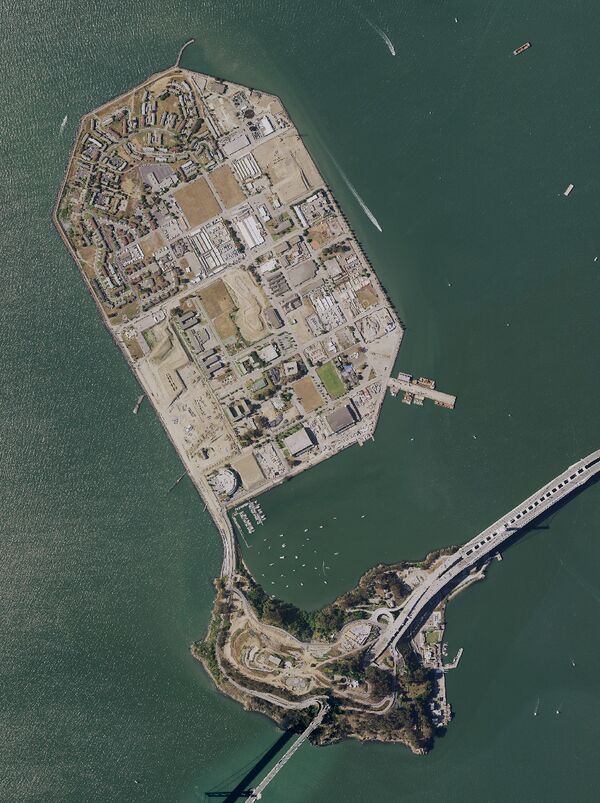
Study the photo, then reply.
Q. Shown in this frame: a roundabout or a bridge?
bridge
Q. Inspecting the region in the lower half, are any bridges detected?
Yes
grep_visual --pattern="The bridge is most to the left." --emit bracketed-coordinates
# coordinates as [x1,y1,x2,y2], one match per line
[244,700,330,803]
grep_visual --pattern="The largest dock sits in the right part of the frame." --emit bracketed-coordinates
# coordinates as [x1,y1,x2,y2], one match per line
[389,378,456,403]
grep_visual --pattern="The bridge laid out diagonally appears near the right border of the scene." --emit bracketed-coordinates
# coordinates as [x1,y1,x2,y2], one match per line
[370,449,600,661]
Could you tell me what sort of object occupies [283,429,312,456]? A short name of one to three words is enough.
hangar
